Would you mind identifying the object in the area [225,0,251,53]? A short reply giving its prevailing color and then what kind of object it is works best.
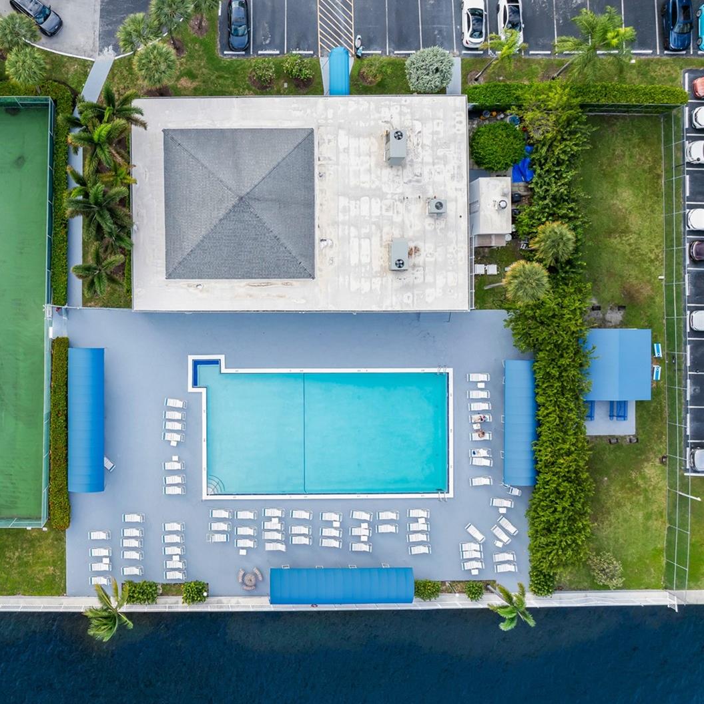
blue car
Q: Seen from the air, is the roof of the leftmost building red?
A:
No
